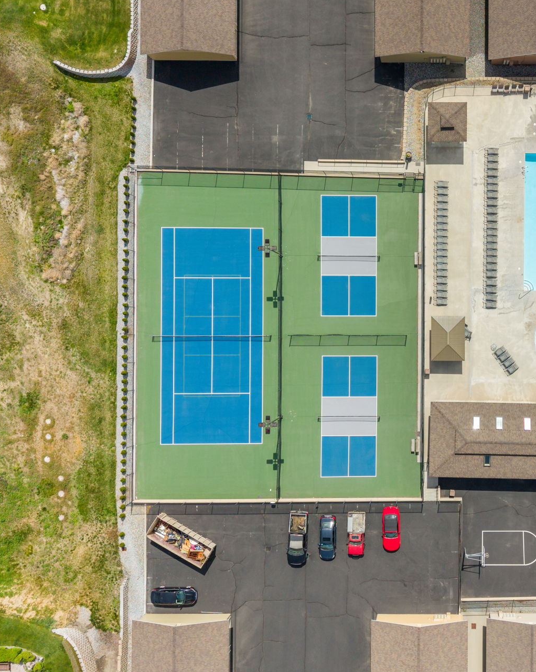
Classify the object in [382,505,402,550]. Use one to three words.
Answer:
car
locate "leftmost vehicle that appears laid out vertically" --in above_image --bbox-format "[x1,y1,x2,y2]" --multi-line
[286,507,309,565]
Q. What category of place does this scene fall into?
sports ground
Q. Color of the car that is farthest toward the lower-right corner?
red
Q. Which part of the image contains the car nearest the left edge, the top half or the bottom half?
bottom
